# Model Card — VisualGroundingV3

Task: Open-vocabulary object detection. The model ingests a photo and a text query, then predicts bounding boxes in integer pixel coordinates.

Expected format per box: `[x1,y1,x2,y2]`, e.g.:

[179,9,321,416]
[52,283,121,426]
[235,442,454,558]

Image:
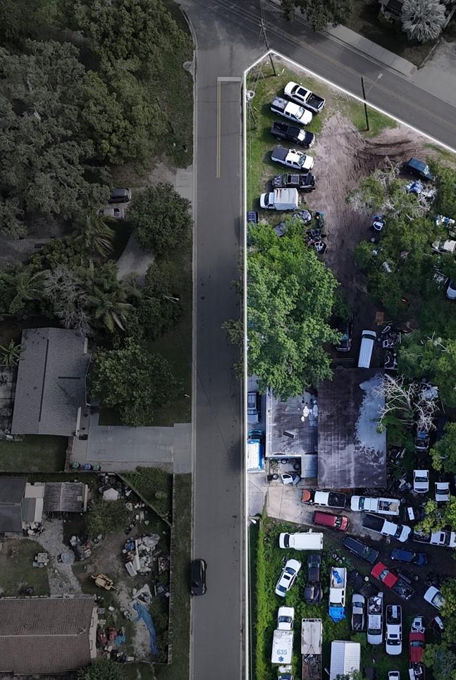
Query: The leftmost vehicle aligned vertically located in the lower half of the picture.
[189,558,207,596]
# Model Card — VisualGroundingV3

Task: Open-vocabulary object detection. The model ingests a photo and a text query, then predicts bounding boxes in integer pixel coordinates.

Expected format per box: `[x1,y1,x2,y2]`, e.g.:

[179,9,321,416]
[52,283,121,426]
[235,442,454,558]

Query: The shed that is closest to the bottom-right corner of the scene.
[330,636,360,680]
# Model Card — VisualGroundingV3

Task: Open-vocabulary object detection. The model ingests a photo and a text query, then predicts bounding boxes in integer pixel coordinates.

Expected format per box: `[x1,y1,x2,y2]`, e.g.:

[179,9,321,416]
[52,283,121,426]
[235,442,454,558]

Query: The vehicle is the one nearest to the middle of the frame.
[245,392,262,425]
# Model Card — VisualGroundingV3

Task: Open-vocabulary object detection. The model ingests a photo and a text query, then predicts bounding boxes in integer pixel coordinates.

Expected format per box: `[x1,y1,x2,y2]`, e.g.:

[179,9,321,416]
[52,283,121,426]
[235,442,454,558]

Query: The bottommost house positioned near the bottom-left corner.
[0,595,100,677]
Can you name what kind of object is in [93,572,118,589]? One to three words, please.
work vehicle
